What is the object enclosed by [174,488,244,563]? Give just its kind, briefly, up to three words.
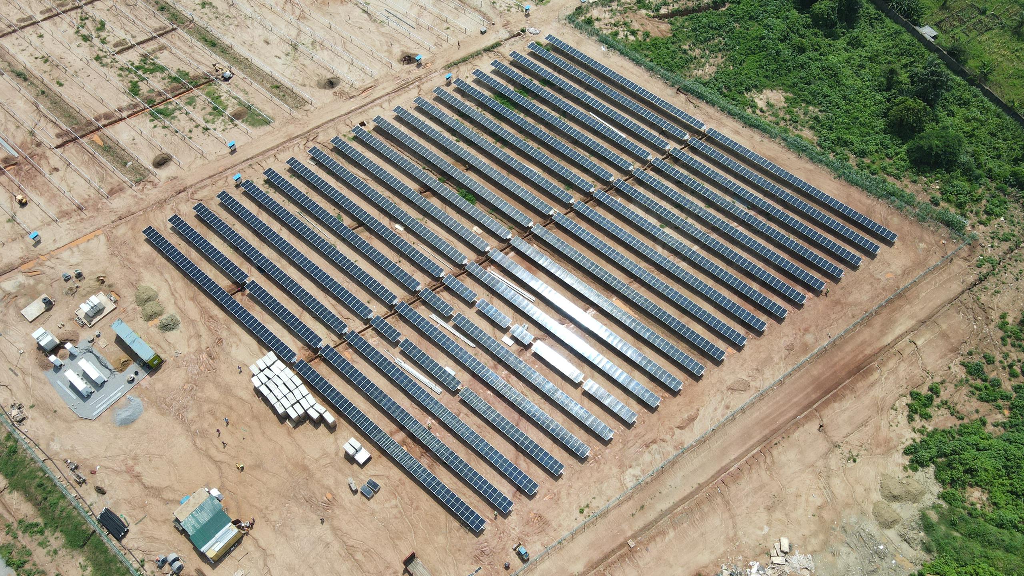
shed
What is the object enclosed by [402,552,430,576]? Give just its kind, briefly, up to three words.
vehicle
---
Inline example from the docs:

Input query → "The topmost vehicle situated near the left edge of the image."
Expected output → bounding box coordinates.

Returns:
[13,194,30,208]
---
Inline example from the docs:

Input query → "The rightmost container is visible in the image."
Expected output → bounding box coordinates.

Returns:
[111,319,162,367]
